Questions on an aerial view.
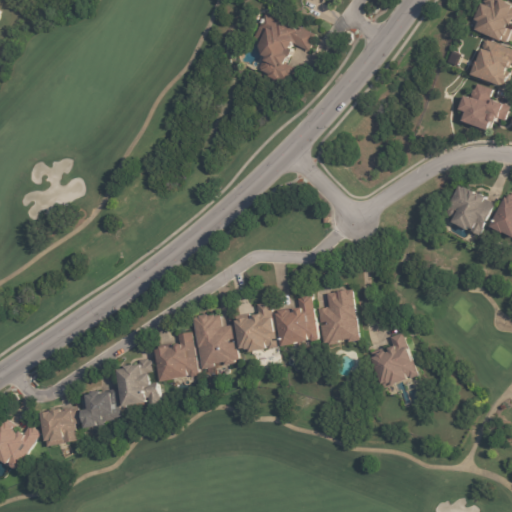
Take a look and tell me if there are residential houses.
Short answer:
Yes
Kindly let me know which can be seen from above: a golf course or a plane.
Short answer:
golf course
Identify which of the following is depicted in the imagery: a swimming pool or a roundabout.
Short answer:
swimming pool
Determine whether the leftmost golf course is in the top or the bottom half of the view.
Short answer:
top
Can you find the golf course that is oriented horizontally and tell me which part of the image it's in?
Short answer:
bottom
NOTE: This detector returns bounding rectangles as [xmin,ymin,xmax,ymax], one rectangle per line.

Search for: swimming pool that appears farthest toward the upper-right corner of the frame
[446,226,473,240]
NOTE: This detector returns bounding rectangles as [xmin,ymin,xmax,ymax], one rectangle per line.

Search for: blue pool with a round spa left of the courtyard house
[240,51,260,70]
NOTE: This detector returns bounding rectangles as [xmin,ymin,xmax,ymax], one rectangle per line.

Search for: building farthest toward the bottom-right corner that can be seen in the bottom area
[372,333,420,386]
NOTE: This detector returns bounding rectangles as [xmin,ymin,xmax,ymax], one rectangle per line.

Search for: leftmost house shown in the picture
[0,419,42,467]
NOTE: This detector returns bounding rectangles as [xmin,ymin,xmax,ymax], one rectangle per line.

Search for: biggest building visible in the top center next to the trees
[255,15,317,80]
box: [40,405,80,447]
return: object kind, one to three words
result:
house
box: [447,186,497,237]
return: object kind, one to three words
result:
house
